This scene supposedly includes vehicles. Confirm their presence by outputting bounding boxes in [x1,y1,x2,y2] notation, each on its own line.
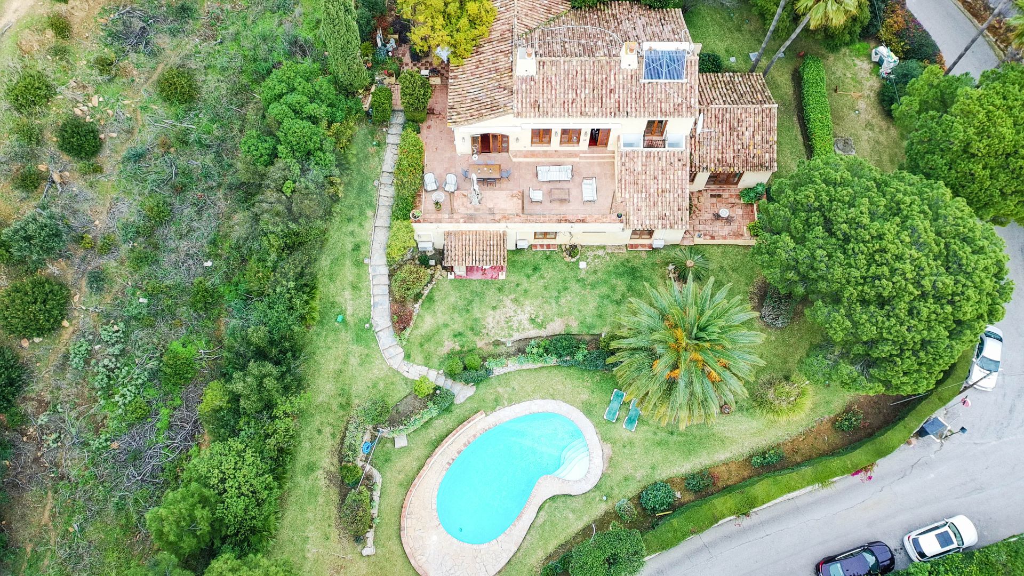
[906,515,985,565]
[818,540,900,576]
[970,323,1014,391]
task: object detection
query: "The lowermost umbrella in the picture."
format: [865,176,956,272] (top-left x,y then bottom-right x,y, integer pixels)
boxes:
[470,181,483,209]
